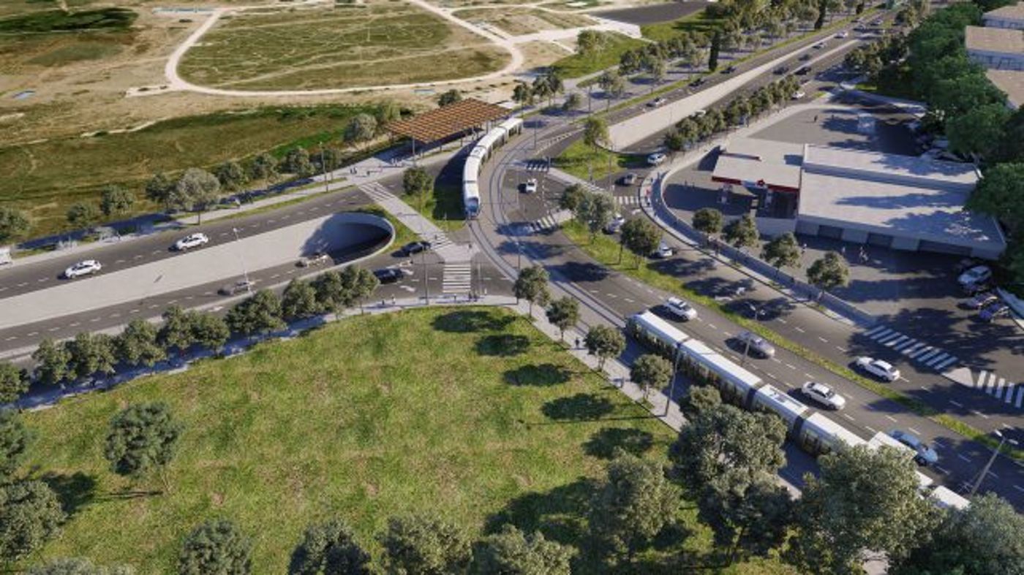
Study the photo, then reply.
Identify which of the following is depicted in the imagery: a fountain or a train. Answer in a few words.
train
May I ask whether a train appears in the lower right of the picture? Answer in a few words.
Yes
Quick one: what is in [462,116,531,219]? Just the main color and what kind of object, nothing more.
white train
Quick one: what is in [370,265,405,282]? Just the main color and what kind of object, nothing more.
black car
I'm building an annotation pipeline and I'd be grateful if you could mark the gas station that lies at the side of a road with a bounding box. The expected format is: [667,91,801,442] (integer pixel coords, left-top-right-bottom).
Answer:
[712,133,804,211]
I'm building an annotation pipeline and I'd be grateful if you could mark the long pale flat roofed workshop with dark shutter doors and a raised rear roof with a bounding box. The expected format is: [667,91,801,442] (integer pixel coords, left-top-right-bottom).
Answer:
[796,137,1004,262]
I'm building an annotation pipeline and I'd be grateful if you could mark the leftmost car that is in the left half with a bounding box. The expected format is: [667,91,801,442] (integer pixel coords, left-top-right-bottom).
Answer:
[62,256,100,277]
